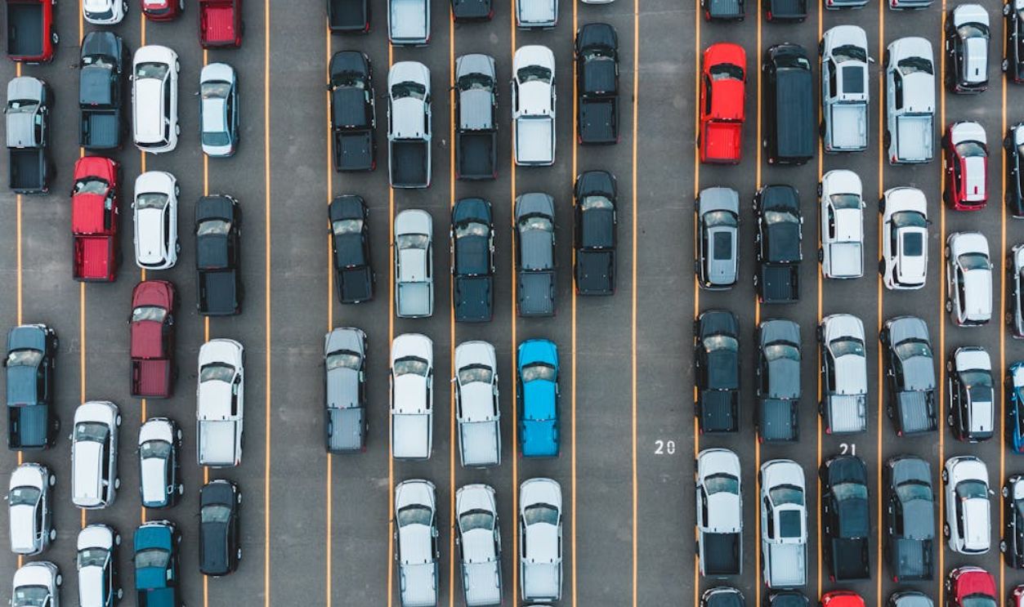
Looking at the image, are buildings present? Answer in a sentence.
No, the frame has no building in it.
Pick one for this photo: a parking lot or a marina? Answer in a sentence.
The area seen from above is a parking lot.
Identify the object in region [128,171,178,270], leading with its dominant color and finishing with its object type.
white car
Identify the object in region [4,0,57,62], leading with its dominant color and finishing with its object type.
black truck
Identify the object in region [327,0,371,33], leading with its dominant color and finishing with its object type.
black truck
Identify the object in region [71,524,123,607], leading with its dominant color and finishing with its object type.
white car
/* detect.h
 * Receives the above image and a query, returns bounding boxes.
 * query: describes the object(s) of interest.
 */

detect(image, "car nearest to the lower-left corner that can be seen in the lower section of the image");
[7,560,59,607]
